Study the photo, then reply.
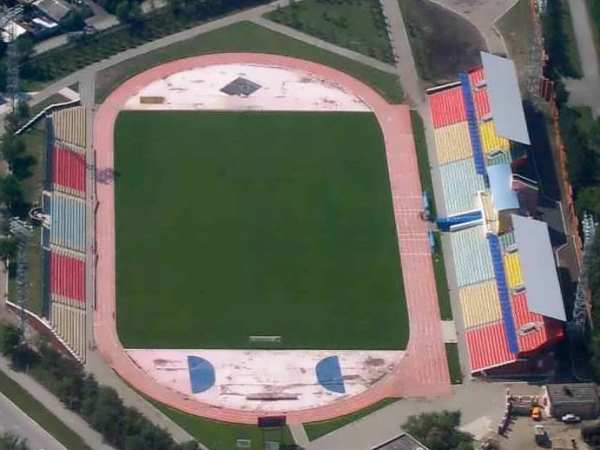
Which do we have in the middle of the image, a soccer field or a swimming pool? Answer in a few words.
soccer field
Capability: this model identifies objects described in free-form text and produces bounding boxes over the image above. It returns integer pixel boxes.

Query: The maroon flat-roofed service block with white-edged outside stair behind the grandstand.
[524,171,557,229]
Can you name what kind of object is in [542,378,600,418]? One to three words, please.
building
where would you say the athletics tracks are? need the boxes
[91,52,453,426]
